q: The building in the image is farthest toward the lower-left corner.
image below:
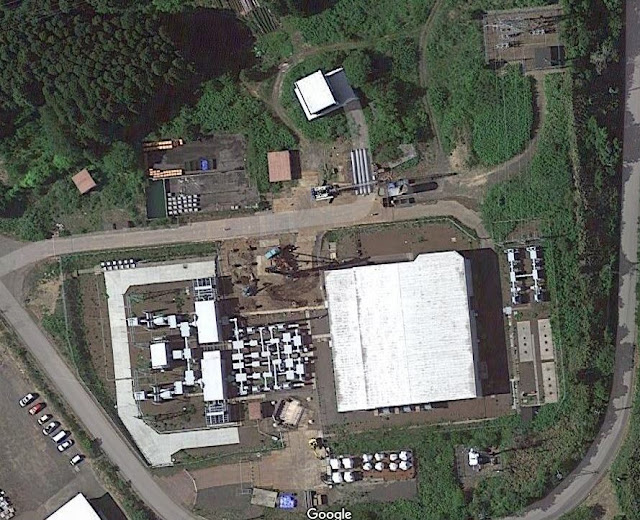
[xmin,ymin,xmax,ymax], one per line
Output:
[42,492,104,520]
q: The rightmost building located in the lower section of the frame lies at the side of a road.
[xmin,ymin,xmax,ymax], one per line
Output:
[321,250,481,413]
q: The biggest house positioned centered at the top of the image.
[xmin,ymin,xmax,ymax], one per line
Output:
[294,67,358,121]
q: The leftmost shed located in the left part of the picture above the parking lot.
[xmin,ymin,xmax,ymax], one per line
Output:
[72,169,97,194]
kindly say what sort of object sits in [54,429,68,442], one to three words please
vehicle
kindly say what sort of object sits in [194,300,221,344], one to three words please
building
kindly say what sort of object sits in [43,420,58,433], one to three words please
vehicle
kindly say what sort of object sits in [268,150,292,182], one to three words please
shed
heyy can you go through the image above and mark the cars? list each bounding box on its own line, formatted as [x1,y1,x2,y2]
[59,438,74,451]
[43,420,58,433]
[21,392,36,406]
[71,452,84,464]
[39,412,51,422]
[54,429,68,442]
[31,402,44,414]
